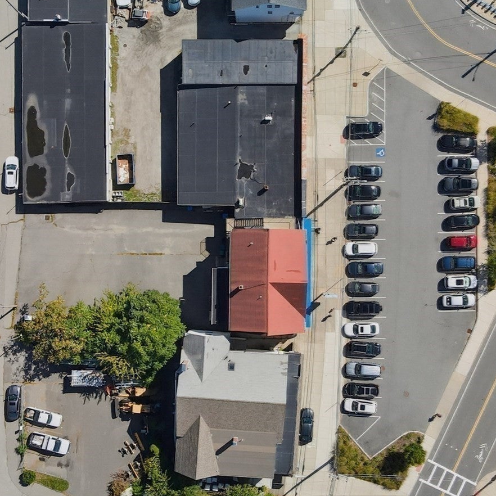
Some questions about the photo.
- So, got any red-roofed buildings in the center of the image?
Yes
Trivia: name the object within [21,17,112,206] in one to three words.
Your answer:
building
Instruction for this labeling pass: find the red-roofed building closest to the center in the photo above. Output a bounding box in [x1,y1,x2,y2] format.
[213,217,321,335]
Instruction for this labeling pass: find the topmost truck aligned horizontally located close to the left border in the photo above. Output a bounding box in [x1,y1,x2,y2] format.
[22,406,63,427]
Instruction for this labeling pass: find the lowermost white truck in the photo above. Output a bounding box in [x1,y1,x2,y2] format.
[27,433,70,454]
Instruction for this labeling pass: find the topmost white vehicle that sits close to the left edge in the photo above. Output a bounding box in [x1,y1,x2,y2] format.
[2,155,20,191]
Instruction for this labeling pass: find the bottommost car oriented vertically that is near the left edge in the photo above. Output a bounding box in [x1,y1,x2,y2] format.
[4,386,21,421]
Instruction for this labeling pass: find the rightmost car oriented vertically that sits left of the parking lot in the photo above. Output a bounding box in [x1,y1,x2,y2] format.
[299,408,315,442]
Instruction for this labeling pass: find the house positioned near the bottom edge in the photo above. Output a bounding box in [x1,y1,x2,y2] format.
[175,332,301,481]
